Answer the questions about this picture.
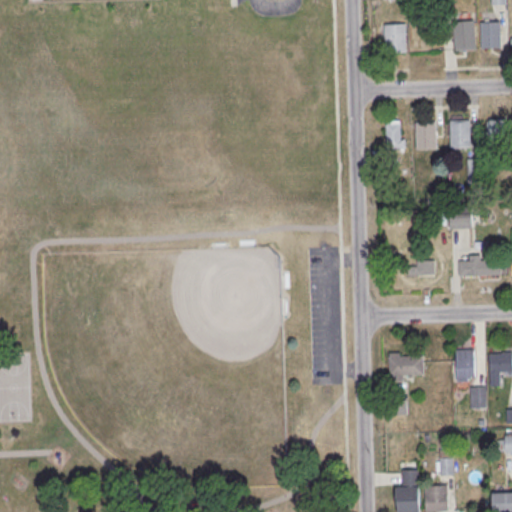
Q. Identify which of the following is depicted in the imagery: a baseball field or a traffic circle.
baseball field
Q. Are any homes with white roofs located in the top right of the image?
Yes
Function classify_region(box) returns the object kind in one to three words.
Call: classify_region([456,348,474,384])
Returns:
house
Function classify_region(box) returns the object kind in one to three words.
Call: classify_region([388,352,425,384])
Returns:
house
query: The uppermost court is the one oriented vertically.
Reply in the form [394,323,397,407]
[0,352,32,422]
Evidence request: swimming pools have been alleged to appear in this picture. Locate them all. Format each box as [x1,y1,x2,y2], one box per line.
[468,470,484,486]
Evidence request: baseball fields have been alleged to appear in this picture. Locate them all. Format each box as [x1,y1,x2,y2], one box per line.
[42,247,286,487]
